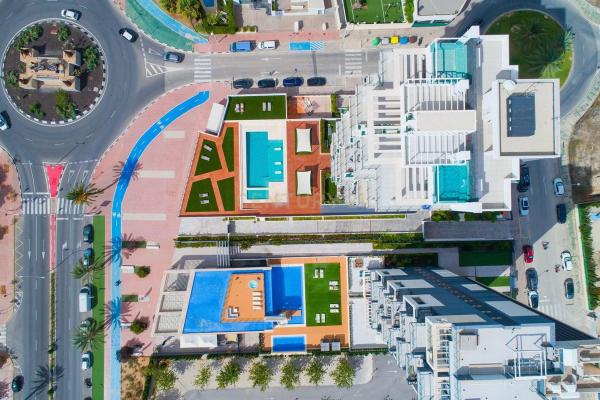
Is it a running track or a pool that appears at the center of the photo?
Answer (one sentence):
The feature located at the center of the photo is a pool.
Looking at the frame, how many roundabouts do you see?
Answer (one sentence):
The number of roundabouts here is 2.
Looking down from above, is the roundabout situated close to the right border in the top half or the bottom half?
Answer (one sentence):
The top half of the photo is where the roundabout situated close to the right border is.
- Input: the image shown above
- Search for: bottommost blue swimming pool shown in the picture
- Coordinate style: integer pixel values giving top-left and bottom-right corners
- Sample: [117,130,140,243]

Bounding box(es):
[271,335,306,353]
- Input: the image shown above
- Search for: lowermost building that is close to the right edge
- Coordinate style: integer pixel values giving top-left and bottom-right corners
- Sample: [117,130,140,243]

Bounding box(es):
[369,267,600,400]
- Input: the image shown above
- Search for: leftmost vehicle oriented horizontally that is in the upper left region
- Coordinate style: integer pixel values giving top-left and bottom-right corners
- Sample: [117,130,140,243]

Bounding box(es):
[59,9,81,21]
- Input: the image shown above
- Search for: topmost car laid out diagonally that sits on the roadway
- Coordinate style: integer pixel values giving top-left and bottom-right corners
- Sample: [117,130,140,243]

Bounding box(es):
[120,27,139,43]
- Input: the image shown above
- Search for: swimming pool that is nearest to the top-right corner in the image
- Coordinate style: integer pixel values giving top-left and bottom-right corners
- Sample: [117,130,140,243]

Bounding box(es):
[430,39,468,85]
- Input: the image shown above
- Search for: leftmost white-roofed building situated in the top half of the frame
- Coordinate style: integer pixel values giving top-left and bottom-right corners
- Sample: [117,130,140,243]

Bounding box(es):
[206,103,226,135]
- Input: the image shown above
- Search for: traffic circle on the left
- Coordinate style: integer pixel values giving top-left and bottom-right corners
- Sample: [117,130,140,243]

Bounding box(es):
[2,19,106,123]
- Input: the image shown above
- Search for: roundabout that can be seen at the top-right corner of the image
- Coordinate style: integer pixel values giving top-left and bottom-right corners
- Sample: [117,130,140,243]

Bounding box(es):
[486,9,574,88]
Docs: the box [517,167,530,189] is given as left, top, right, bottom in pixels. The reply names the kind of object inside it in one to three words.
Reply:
vehicle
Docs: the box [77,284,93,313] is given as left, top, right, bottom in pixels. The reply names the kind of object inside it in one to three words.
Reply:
vehicle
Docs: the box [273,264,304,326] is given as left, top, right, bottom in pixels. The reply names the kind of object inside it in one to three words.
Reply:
swimming pool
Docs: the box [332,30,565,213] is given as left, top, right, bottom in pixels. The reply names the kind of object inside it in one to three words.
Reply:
building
